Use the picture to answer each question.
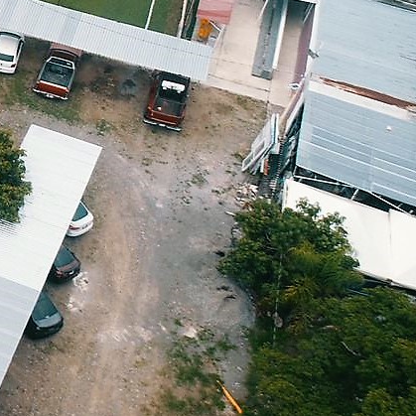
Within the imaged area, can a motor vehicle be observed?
Yes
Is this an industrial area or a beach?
industrial area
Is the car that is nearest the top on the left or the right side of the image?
left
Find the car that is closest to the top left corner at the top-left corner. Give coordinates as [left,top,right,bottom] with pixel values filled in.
[0,28,29,72]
